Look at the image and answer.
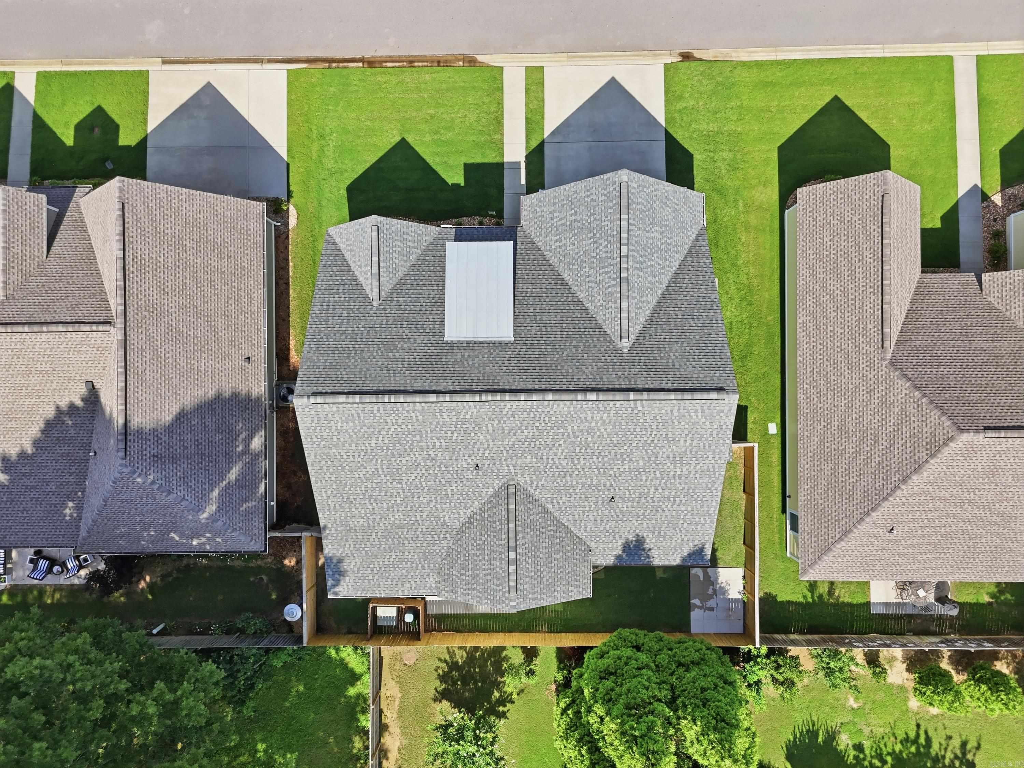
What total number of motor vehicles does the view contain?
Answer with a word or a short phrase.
0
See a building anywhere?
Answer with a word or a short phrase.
Yes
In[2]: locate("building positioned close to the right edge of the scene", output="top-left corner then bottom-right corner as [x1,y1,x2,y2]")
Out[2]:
[785,172,1024,581]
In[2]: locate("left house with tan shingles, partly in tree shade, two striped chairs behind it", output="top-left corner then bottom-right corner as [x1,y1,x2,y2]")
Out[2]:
[0,175,286,555]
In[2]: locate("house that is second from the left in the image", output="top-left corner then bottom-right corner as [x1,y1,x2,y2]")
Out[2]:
[294,168,739,612]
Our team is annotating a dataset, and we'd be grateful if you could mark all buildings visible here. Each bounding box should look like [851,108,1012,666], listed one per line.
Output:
[0,175,286,555]
[294,168,739,612]
[785,172,1024,581]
